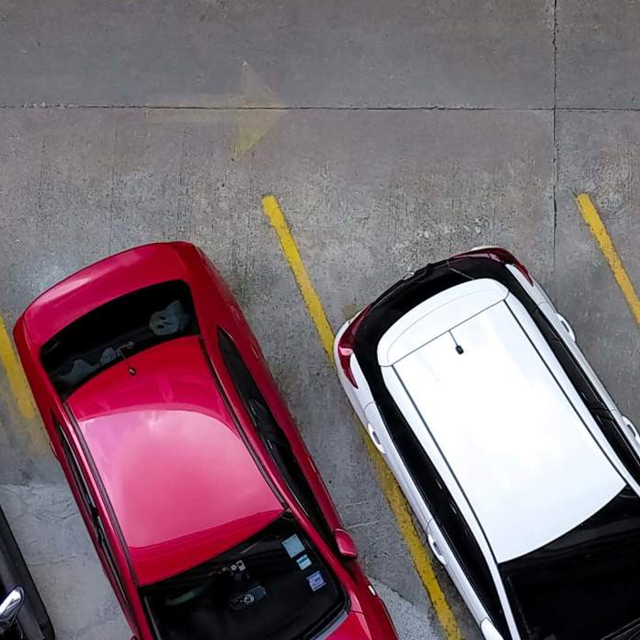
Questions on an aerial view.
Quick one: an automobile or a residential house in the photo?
automobile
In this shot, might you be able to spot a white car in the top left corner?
No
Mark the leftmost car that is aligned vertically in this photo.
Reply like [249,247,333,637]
[0,502,62,640]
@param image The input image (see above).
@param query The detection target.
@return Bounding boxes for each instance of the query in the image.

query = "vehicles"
[13,240,406,640]
[0,502,62,640]
[338,246,640,640]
